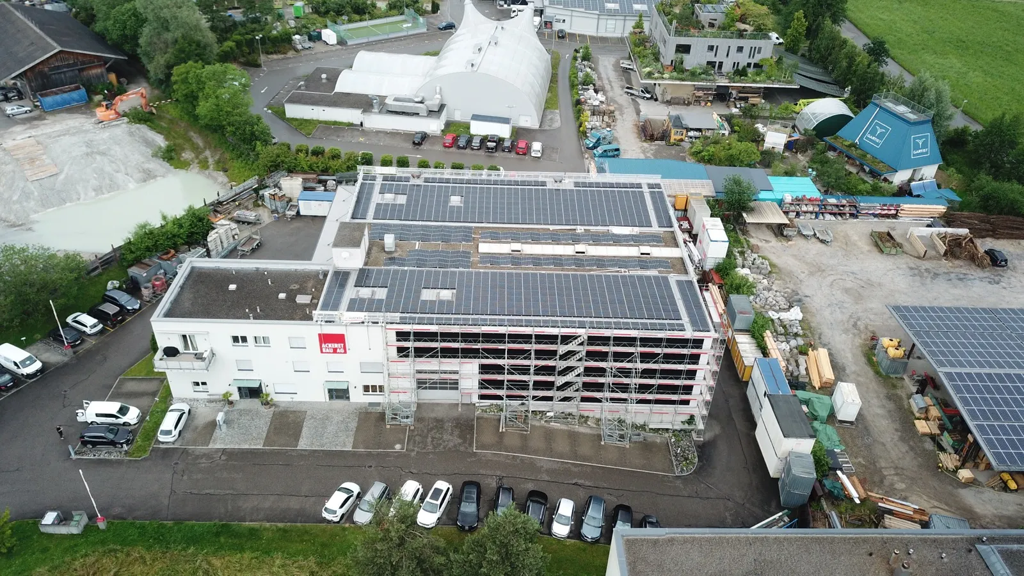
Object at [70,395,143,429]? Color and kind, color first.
white van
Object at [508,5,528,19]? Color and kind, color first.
white vehicle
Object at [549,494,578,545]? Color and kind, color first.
white car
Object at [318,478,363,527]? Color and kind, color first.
white car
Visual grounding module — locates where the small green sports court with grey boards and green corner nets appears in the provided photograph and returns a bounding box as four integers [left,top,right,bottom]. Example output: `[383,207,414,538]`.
[326,0,427,44]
